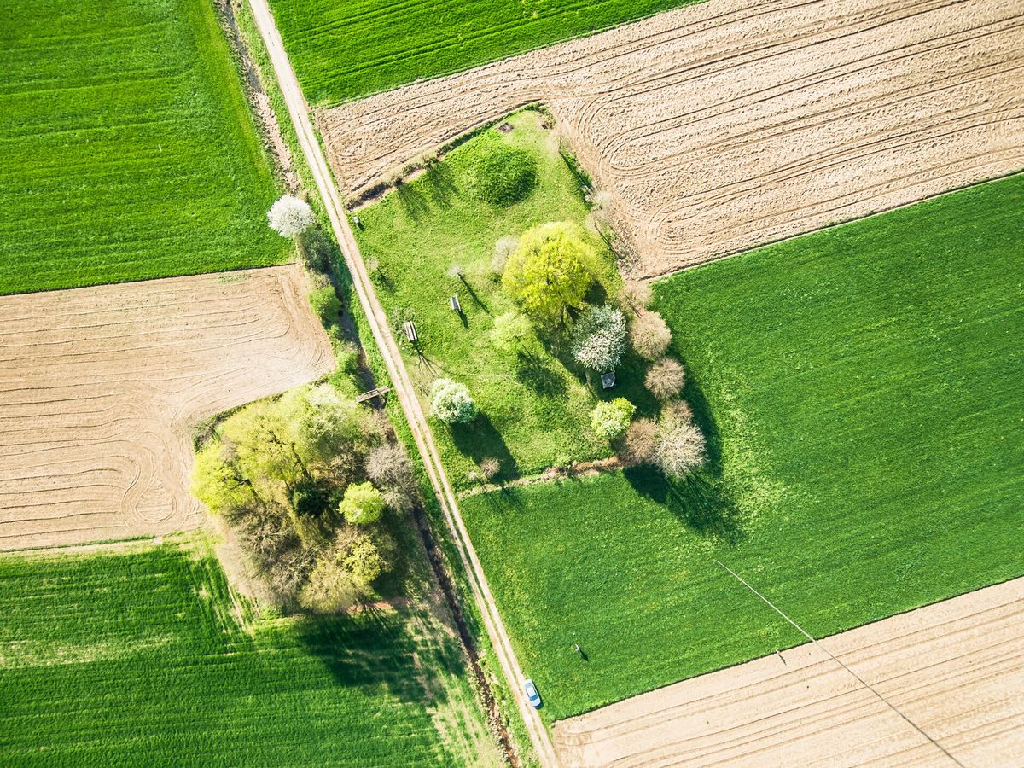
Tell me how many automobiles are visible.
1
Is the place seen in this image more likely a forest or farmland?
farmland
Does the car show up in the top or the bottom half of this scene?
bottom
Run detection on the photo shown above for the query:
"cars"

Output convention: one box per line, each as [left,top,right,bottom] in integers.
[521,678,543,709]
